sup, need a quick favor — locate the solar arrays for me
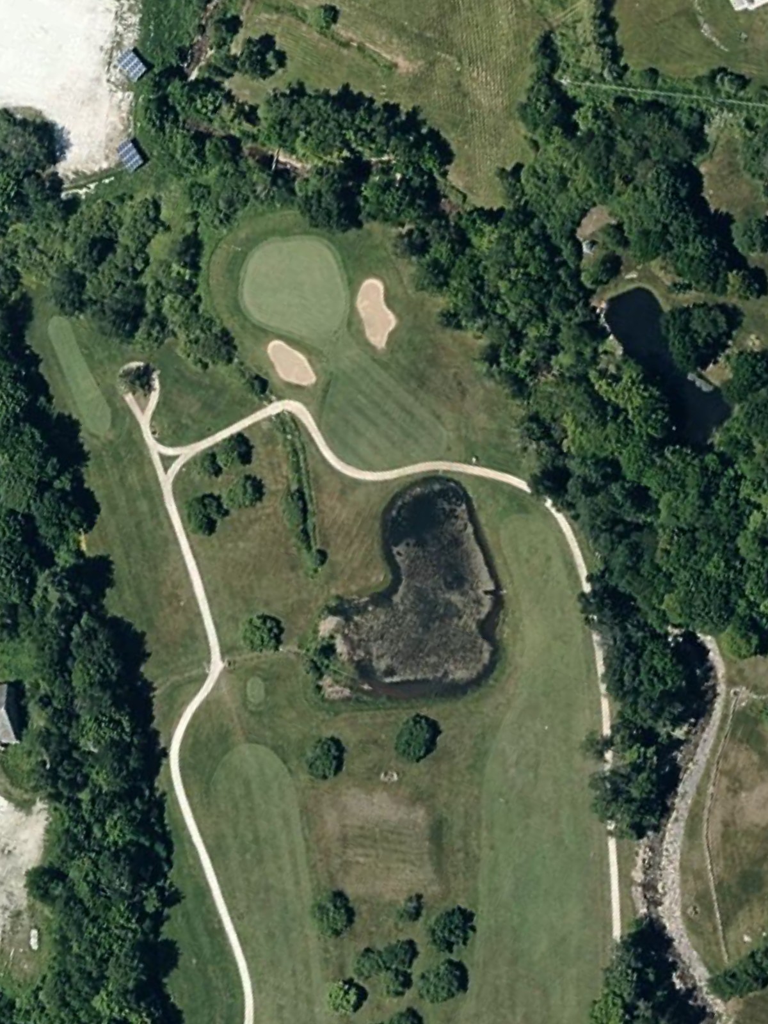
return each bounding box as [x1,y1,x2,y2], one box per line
[118,48,149,81]
[117,140,145,171]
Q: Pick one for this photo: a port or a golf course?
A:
golf course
